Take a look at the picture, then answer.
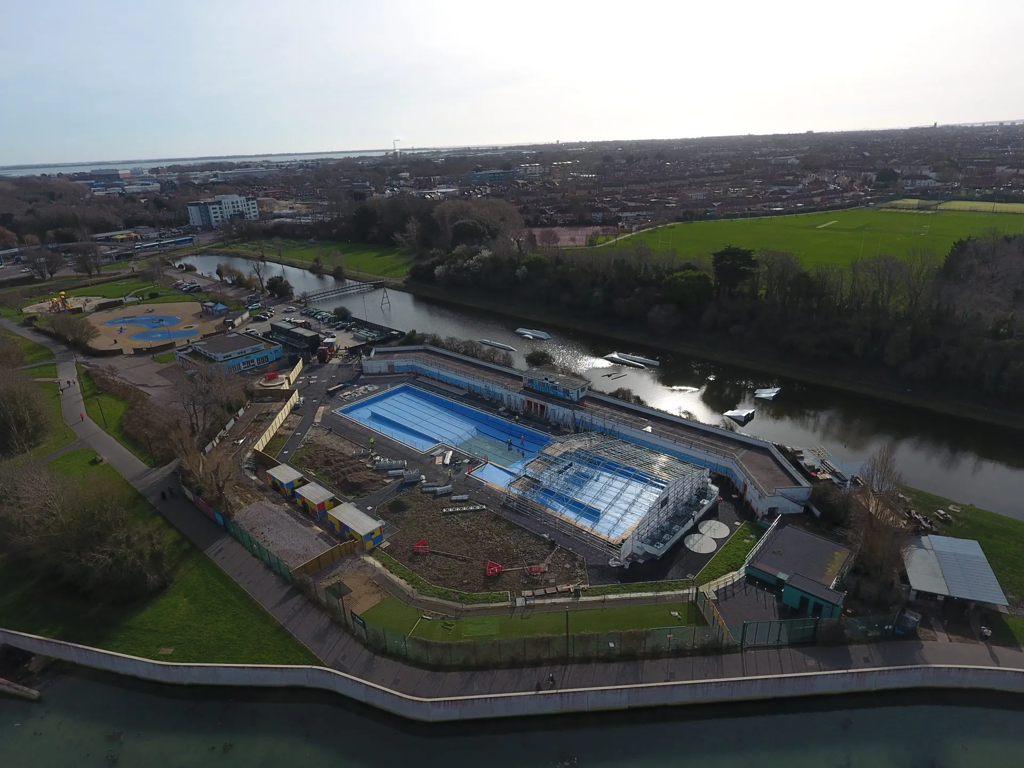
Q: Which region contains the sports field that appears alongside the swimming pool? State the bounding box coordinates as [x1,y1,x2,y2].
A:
[549,207,1024,308]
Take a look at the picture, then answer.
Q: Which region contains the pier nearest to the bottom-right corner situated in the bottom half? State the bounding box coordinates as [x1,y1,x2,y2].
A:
[798,447,865,489]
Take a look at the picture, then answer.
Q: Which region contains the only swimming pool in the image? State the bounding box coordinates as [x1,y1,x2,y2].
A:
[326,380,678,542]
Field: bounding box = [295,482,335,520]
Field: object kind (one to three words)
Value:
building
